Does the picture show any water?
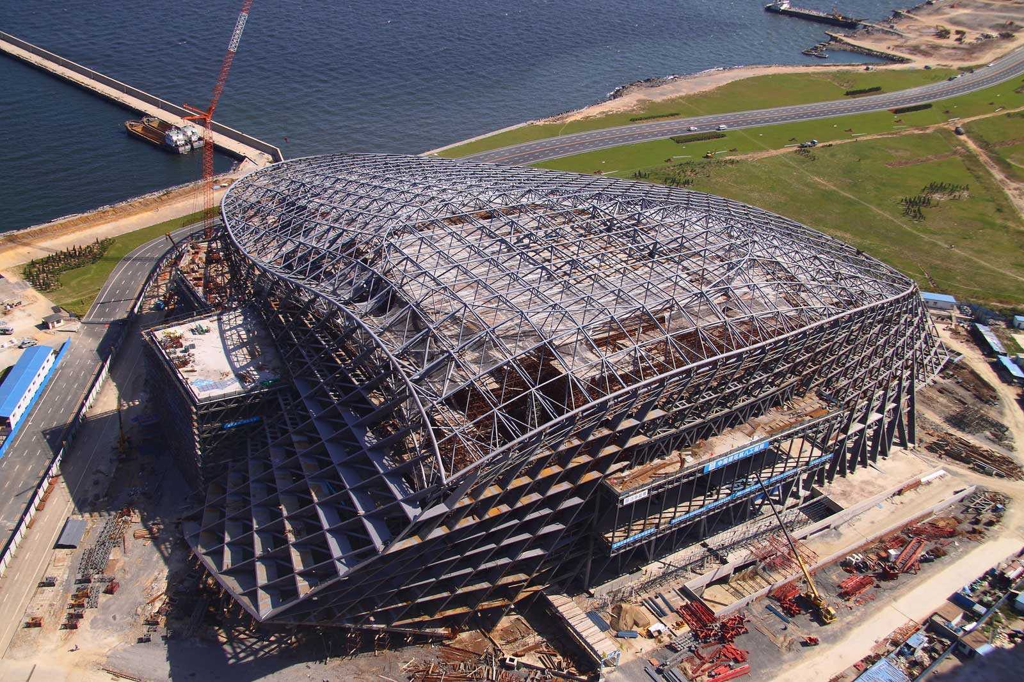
Yes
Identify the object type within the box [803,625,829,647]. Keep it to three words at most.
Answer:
work vehicle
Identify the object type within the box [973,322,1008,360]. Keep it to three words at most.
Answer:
shed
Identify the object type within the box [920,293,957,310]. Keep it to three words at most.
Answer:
shed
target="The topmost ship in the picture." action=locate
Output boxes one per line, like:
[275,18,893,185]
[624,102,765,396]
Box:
[764,0,875,26]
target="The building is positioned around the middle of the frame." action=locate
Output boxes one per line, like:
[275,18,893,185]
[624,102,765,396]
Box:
[134,152,967,636]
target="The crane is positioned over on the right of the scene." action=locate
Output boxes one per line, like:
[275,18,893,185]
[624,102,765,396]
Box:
[749,474,844,623]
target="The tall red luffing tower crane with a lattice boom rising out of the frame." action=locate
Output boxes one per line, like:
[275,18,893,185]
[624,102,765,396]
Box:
[168,0,255,265]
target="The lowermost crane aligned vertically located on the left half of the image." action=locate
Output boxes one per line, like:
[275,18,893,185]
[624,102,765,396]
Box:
[106,402,136,464]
